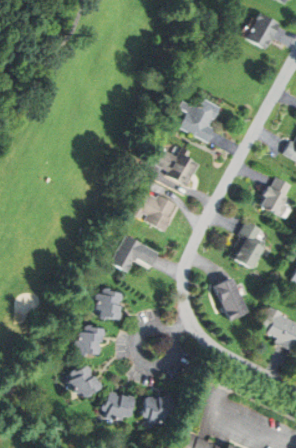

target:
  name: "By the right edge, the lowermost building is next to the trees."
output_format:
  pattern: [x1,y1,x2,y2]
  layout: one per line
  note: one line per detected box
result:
[262,309,296,349]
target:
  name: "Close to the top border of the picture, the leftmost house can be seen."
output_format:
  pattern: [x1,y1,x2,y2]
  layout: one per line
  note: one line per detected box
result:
[248,14,282,48]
